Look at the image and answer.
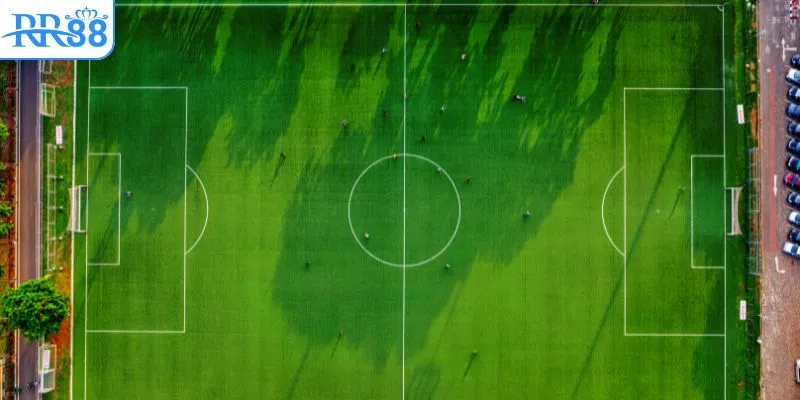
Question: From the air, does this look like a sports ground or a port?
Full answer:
The area seen from above is a sports ground.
